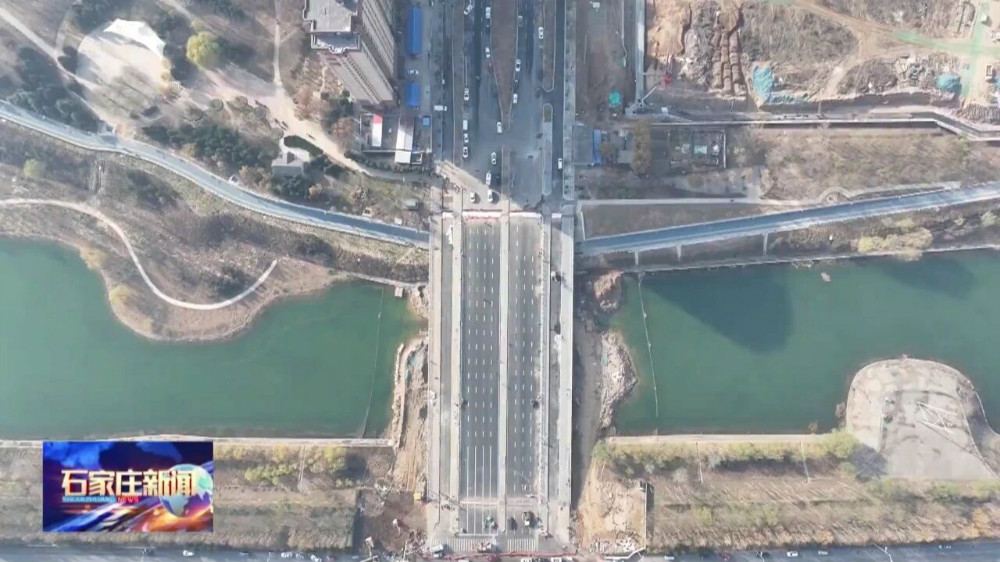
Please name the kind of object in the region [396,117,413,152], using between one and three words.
building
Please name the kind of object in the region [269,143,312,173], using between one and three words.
building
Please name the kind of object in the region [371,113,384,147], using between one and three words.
shed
